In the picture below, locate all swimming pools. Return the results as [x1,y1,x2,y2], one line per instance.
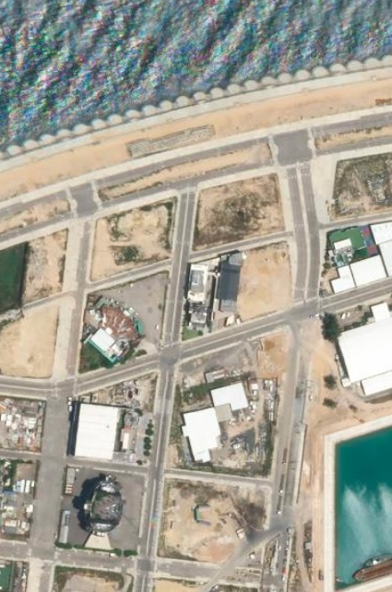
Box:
[336,252,353,268]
